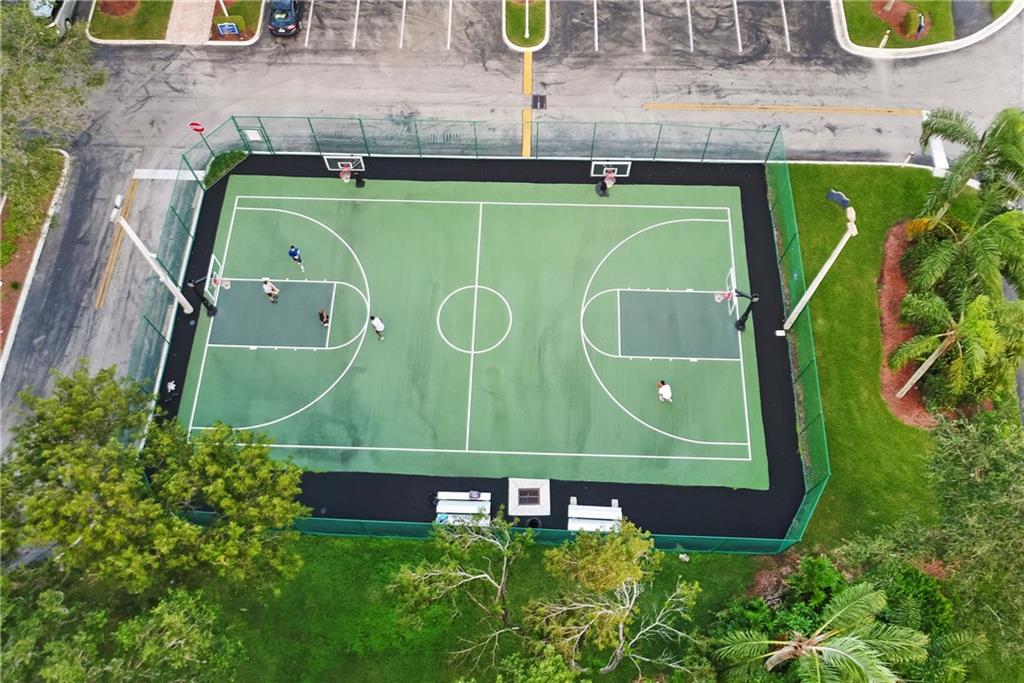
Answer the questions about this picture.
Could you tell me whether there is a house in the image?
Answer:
No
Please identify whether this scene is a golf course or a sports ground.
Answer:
sports ground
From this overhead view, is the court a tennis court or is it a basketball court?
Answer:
basketball court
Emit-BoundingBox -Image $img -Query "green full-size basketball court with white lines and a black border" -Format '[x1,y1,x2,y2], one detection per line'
[135,156,803,551]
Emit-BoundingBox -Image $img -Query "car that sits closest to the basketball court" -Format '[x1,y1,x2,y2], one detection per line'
[268,0,306,34]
